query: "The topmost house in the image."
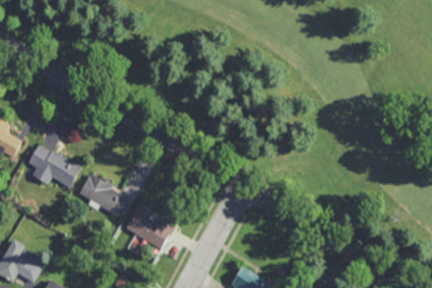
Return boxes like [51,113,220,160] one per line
[0,112,22,154]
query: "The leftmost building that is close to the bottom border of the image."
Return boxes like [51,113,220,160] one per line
[0,237,42,288]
